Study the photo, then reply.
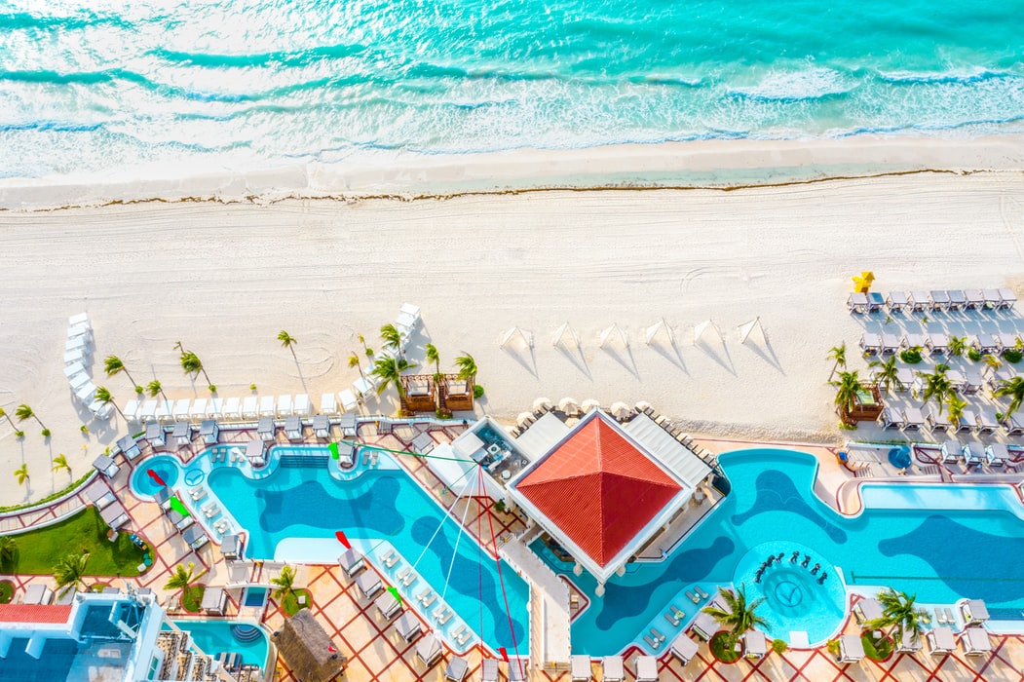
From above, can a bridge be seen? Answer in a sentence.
Yes, a bridge is visible in the scene.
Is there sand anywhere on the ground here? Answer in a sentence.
Yes, there is sand in the image.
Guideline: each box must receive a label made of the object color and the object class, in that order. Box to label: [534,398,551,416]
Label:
white umbrella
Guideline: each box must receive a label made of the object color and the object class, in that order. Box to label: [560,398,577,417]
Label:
white umbrella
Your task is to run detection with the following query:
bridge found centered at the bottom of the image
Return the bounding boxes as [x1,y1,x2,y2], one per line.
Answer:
[493,538,571,671]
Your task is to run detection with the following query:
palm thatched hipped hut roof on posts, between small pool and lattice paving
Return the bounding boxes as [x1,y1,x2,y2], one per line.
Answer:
[271,607,347,682]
